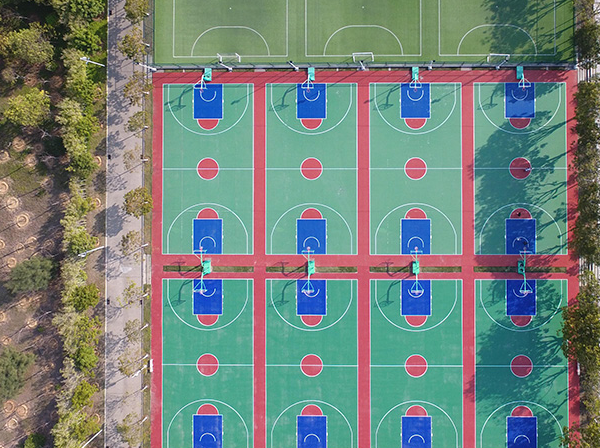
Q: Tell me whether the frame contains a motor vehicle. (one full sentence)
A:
No, I find no motor vehicle anywhere in the image.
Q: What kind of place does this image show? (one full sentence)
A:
This looks like a sports ground.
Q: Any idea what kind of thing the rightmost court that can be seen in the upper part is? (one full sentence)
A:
The rightmost court that can be seen in the upper part is a basketball court.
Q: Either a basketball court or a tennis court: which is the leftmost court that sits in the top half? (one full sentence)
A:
Looking closely, the leftmost court that sits in the top half is a basketball court.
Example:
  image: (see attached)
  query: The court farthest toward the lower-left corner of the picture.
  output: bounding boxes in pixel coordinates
[150,267,260,448]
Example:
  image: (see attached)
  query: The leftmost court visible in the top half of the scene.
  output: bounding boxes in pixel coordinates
[150,69,260,267]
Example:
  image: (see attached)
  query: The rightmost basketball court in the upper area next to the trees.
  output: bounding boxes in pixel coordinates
[467,68,579,267]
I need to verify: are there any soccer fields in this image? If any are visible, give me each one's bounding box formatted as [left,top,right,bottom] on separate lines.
[297,0,430,63]
[155,0,297,64]
[430,0,576,63]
